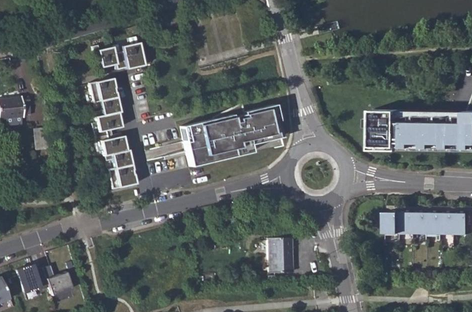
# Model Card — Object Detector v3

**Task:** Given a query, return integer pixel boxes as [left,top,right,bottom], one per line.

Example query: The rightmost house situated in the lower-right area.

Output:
[404,213,466,241]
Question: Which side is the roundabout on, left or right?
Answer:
right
